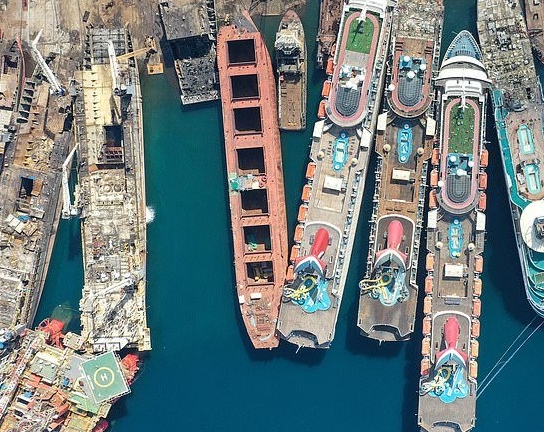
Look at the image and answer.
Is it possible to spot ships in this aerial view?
Yes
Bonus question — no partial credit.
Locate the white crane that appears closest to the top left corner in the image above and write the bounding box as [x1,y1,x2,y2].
[31,34,71,100]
